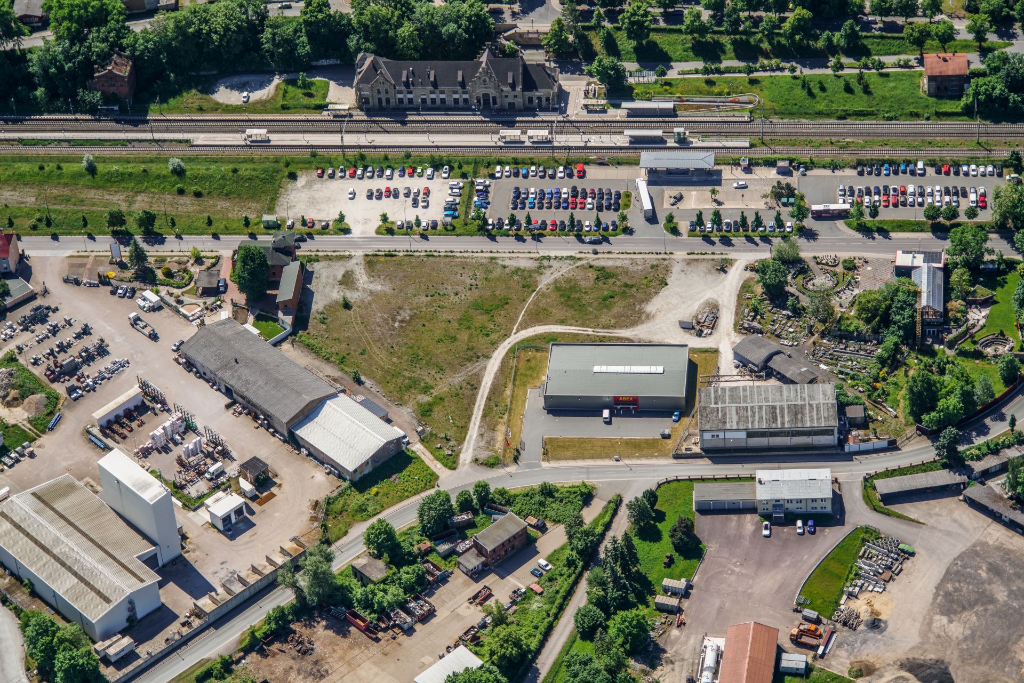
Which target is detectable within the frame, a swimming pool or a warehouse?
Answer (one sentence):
The one in the frame is a warehouse.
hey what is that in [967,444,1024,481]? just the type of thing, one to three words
shed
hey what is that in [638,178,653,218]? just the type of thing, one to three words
vehicle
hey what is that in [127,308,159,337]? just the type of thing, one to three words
truck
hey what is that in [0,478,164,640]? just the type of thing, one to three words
building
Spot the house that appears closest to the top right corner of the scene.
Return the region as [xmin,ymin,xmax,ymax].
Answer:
[923,49,969,93]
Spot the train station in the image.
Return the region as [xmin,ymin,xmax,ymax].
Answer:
[351,39,558,110]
